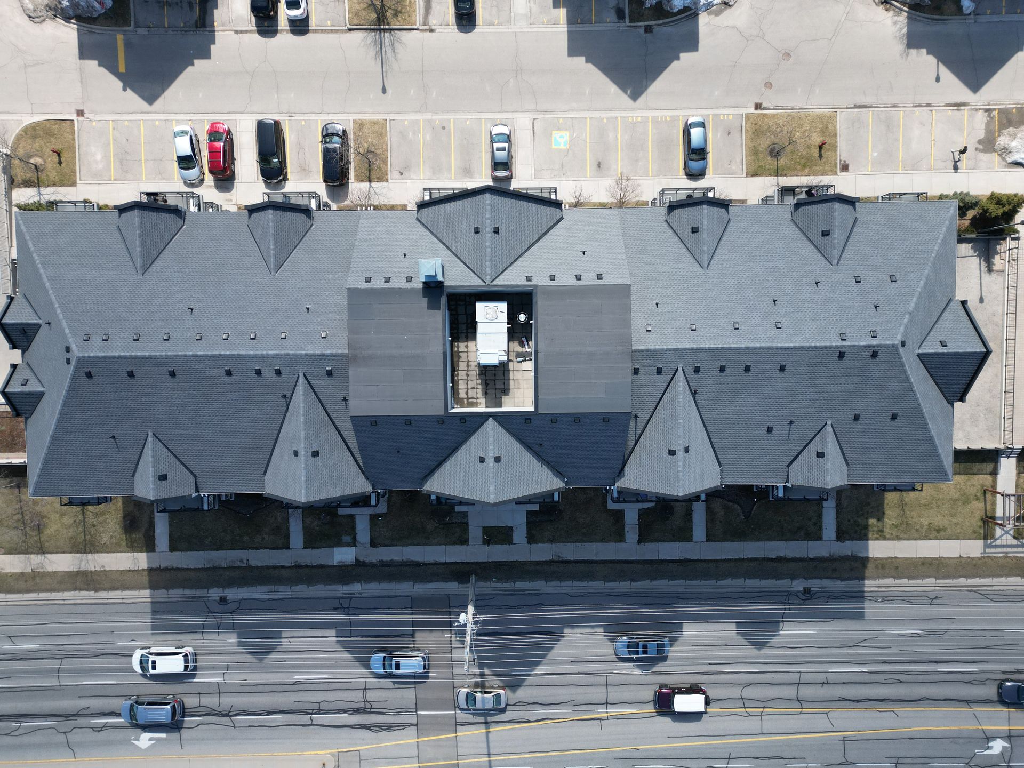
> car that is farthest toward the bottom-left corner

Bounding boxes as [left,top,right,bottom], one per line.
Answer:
[123,694,184,726]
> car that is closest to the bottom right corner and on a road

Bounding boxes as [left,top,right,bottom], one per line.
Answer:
[994,678,1024,706]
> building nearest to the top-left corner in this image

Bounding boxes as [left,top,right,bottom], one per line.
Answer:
[0,184,996,512]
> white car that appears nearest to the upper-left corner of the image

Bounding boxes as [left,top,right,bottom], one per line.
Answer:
[172,124,206,186]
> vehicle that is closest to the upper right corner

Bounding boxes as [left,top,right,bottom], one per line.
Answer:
[682,117,710,177]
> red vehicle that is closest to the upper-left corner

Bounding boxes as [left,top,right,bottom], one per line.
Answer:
[202,121,236,180]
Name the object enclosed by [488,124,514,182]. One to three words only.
car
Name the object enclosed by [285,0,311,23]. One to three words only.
car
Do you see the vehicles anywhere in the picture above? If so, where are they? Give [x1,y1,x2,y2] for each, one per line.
[285,0,311,23]
[373,648,429,678]
[202,121,236,180]
[123,694,184,726]
[172,124,206,186]
[134,647,195,678]
[682,117,710,177]
[614,632,669,661]
[653,684,707,714]
[994,678,1024,706]
[454,0,477,20]
[251,0,280,23]
[456,684,508,712]
[318,123,349,187]
[488,124,514,182]
[255,118,287,184]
